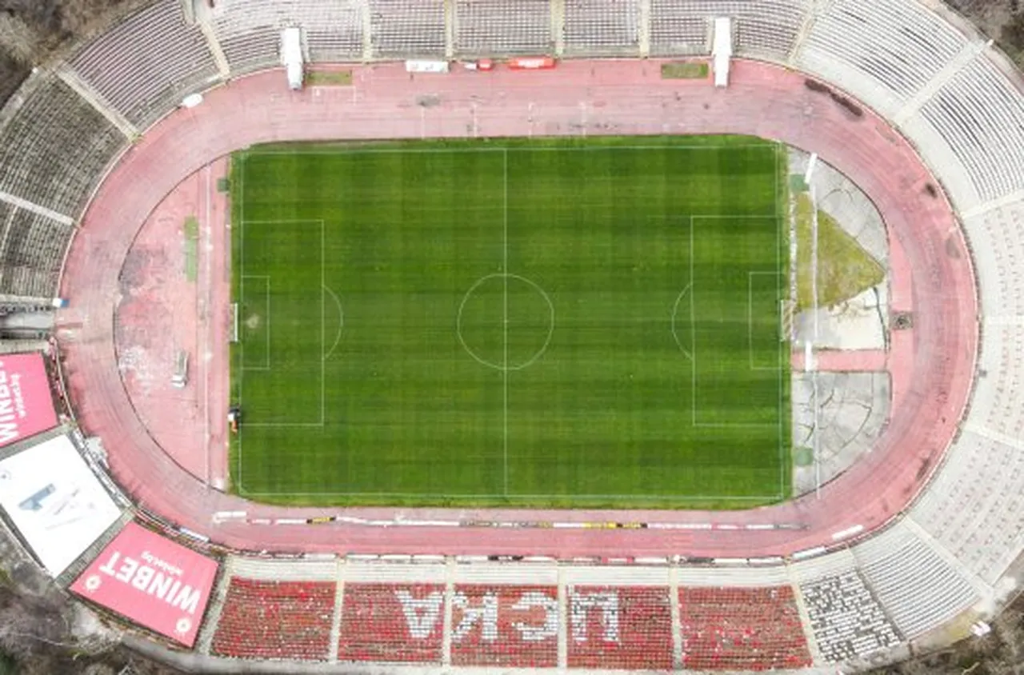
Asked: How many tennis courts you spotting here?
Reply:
0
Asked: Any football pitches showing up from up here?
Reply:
Yes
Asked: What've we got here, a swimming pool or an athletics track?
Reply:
athletics track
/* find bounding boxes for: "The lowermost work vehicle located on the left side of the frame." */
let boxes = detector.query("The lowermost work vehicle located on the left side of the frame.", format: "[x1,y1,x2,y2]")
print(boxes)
[226,406,238,431]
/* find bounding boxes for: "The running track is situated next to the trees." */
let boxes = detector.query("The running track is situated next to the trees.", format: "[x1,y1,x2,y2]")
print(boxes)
[57,58,979,562]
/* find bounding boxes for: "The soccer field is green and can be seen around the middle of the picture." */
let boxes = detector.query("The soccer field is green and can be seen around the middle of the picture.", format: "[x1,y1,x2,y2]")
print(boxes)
[230,134,796,510]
